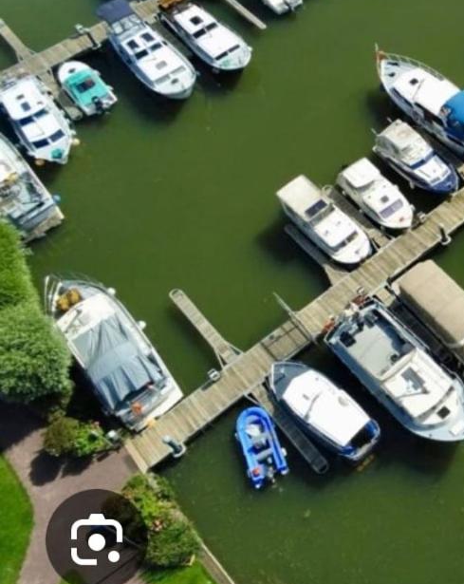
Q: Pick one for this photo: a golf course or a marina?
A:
marina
